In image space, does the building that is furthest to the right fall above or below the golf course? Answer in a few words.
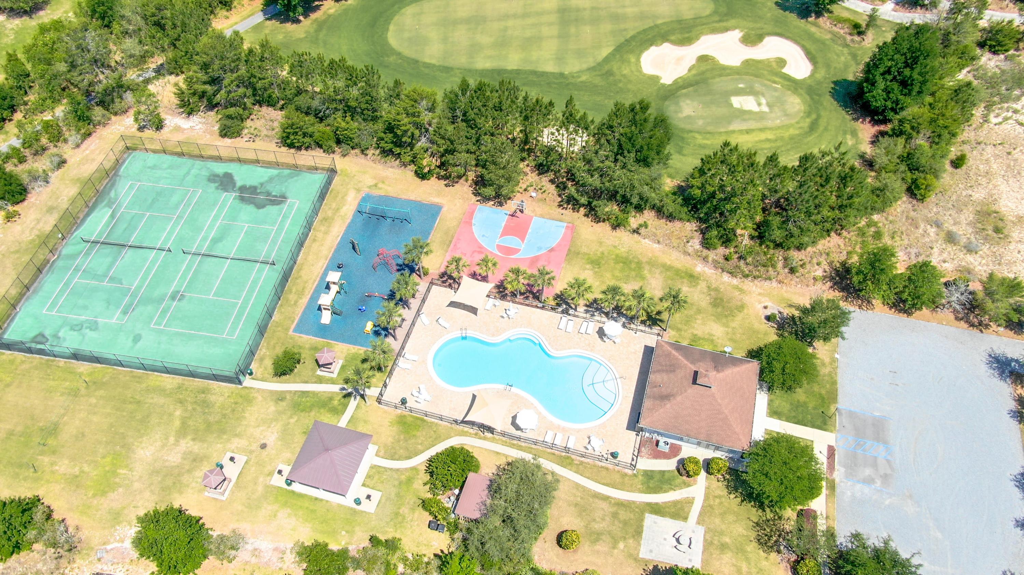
below it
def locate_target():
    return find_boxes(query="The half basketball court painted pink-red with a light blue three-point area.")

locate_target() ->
[440,204,575,295]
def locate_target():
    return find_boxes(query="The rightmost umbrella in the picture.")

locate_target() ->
[603,321,623,338]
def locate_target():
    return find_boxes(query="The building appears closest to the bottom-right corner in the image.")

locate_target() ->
[639,338,761,468]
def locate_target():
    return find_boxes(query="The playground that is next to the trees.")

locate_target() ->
[290,192,444,348]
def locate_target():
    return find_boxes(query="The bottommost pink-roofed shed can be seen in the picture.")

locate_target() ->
[453,475,495,530]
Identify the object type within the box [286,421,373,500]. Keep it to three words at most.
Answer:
building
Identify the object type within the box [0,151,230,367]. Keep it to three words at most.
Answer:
tennis court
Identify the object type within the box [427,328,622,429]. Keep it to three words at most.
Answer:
swimming pool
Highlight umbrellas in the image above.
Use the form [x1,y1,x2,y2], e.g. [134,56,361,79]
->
[515,410,539,431]
[603,321,623,338]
